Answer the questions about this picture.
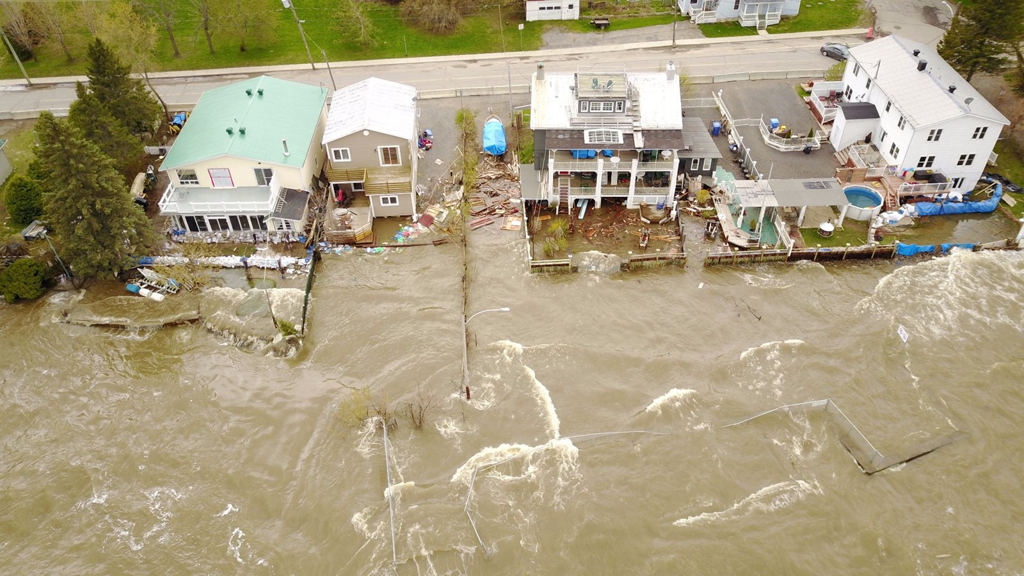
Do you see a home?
Yes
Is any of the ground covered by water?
Yes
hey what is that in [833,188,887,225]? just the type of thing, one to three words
swimming pool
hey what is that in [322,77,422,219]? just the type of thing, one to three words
house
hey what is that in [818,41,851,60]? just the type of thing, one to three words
car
